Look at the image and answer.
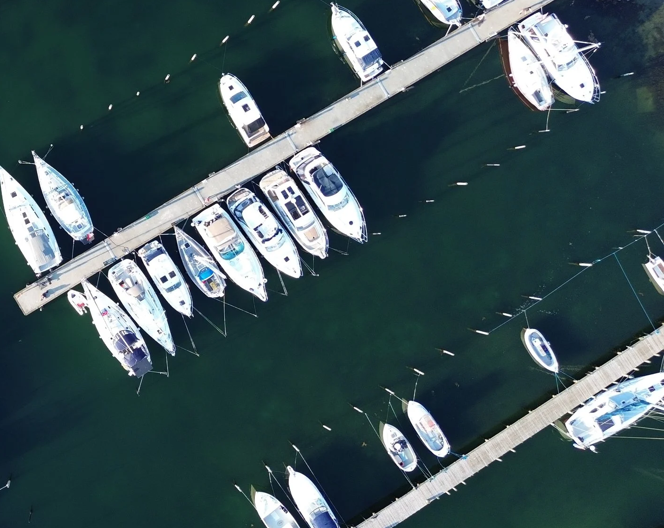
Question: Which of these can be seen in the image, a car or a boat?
boat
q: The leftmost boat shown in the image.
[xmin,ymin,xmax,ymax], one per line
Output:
[0,164,62,274]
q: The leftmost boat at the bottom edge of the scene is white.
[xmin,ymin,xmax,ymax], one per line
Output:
[253,489,298,528]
